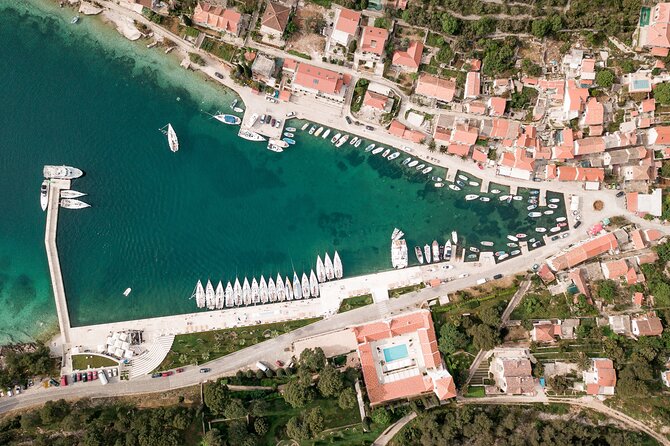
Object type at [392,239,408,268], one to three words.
boat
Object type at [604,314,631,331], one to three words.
house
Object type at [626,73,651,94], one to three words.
swimming pool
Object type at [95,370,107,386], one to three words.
vehicle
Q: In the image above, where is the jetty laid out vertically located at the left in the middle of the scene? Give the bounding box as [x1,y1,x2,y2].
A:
[44,179,72,343]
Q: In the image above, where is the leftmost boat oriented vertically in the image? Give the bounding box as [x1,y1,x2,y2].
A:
[37,179,50,211]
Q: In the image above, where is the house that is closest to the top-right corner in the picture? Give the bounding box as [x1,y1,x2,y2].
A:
[637,1,670,58]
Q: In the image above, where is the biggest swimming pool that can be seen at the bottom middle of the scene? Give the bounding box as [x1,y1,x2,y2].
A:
[380,341,412,366]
